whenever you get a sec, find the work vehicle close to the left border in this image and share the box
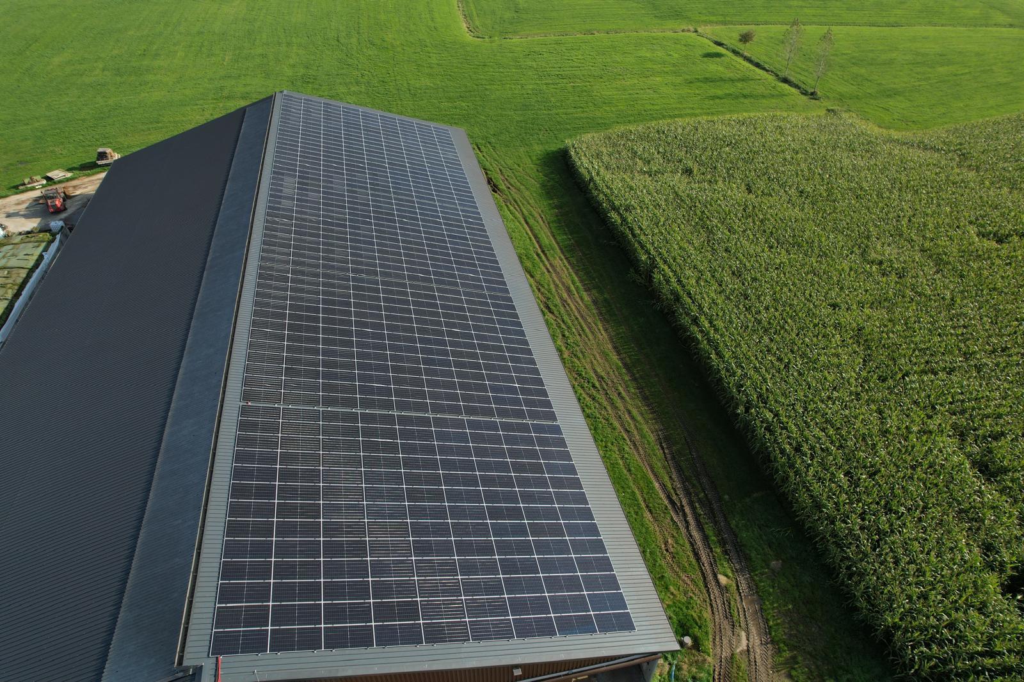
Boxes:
[40,181,73,211]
